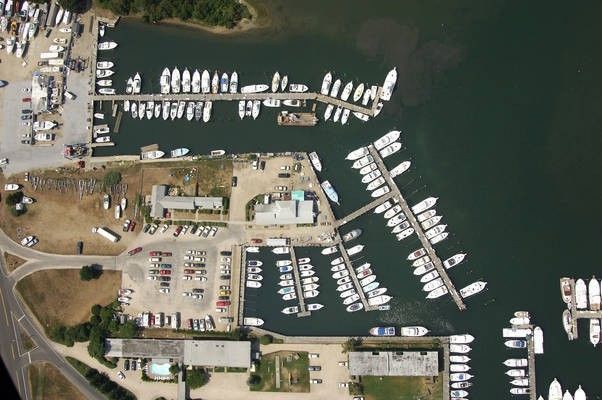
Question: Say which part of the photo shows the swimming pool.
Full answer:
The swimming pool sits in the bottom left section of the image.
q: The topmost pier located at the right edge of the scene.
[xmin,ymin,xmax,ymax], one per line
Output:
[570,279,602,339]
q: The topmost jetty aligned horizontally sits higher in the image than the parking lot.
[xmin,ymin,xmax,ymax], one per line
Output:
[92,86,384,117]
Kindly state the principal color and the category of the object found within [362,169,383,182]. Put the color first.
white boat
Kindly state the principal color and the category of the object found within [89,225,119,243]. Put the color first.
white vehicle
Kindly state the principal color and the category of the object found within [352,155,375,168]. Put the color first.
white boat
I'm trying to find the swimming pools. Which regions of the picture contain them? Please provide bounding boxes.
[145,361,175,381]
